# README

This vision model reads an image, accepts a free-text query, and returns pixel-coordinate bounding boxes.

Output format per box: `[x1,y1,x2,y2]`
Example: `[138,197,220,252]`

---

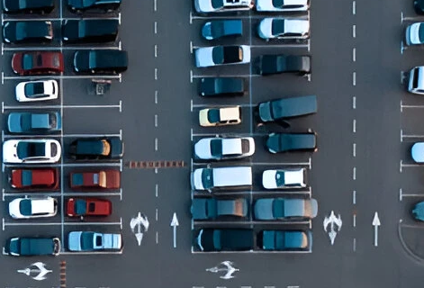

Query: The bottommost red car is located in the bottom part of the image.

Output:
[65,195,112,219]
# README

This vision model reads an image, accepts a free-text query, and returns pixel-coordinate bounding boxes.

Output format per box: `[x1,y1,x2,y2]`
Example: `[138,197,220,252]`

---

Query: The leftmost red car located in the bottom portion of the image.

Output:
[9,167,59,191]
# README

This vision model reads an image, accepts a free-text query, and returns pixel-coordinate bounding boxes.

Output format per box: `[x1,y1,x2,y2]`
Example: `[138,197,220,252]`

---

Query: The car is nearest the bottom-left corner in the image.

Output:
[6,234,60,260]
